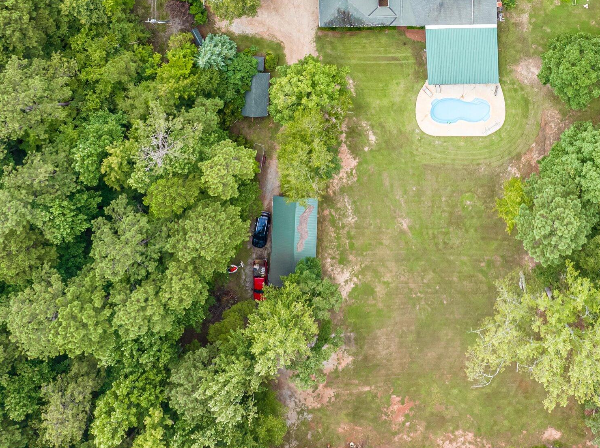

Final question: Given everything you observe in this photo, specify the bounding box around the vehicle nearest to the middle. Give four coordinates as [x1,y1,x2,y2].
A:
[253,210,272,247]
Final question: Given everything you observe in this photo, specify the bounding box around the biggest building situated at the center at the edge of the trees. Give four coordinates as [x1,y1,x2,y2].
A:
[269,195,320,288]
